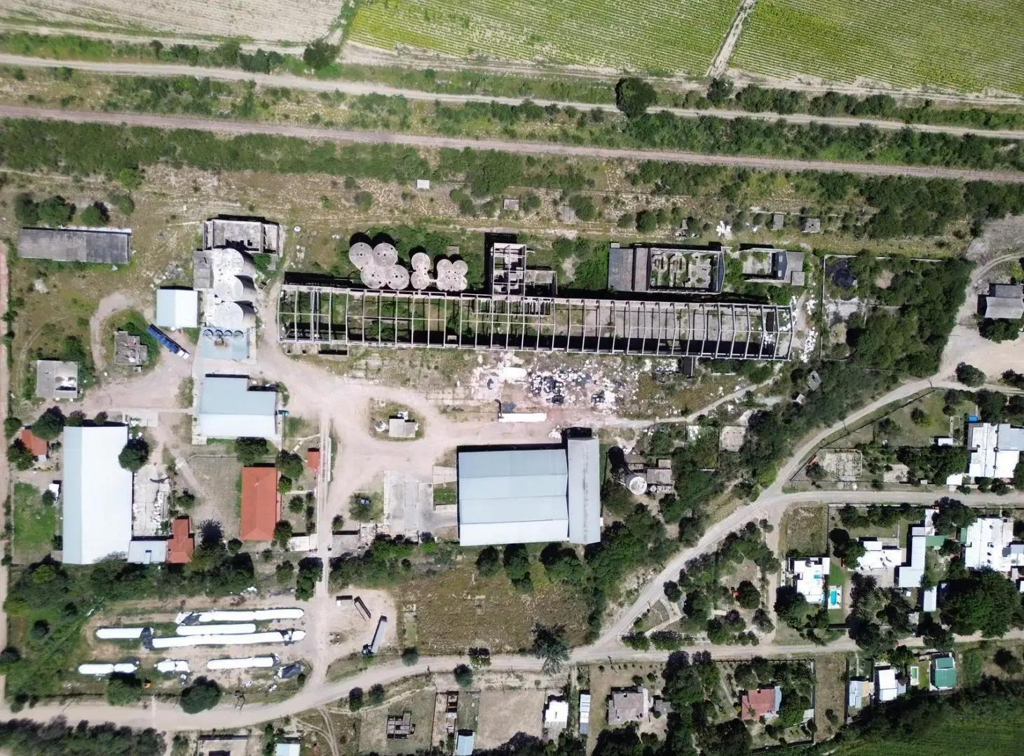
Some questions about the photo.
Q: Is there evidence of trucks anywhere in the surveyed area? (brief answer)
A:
Yes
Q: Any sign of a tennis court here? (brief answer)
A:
No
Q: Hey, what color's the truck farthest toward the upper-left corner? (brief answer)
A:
blue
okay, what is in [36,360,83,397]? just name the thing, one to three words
shed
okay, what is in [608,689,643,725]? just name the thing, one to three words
house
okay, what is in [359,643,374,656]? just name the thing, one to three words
vehicle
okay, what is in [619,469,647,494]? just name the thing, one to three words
water tower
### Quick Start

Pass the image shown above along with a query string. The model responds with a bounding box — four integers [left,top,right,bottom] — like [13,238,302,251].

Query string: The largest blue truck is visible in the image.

[147,327,191,359]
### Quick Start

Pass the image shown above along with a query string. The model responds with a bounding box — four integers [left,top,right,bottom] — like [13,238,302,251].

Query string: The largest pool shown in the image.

[828,586,842,609]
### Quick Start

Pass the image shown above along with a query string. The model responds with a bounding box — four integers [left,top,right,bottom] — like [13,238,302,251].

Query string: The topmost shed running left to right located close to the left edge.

[18,229,134,264]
